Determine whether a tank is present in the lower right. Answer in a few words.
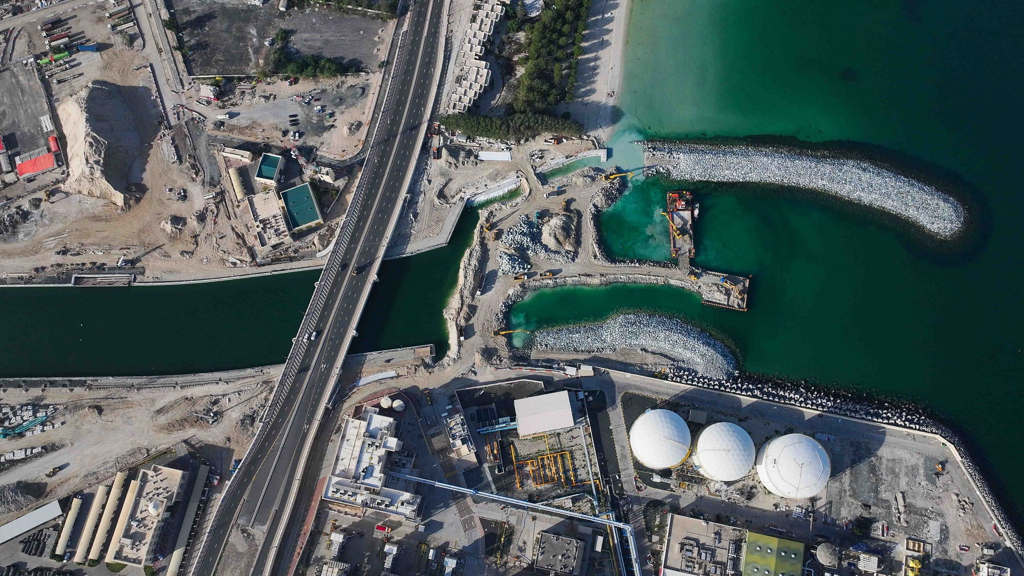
Yes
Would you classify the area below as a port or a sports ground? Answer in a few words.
port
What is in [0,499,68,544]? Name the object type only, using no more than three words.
shed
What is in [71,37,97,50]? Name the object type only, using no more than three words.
vehicle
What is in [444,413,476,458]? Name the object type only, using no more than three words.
house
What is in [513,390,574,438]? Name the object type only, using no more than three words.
building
